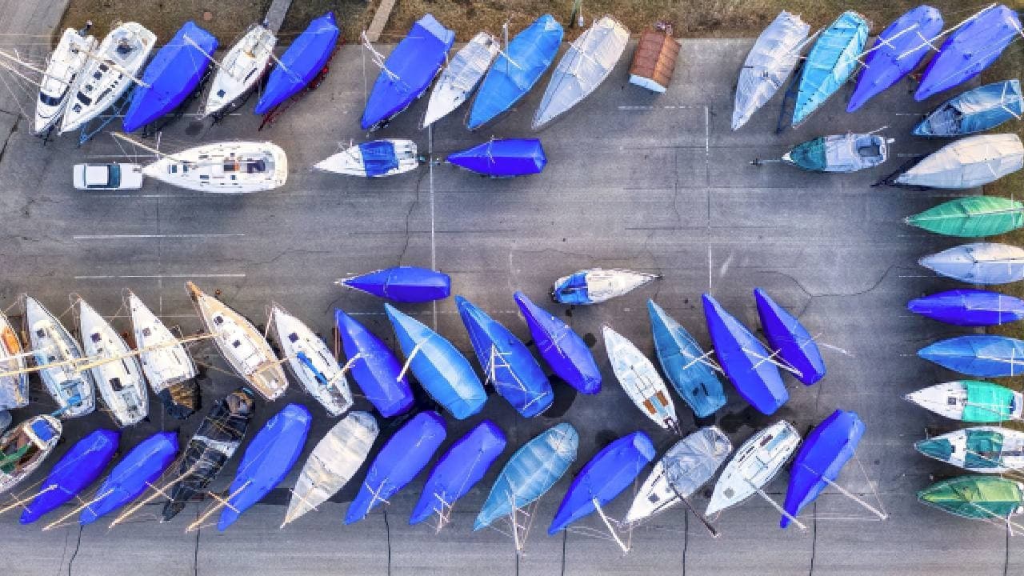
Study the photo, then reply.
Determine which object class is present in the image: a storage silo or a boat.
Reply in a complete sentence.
Looking from above, you can make out a boat.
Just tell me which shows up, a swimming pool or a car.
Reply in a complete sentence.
Of the two, only a car appears.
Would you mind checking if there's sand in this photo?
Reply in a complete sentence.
No, the picture contains no sand.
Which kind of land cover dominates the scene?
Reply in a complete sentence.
The scene is dominated by paved ground.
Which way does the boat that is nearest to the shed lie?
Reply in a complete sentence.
The boat that is nearest to the shed has been laid out at an angle relative to the frame.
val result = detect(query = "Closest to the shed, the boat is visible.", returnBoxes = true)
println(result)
[532,13,629,130]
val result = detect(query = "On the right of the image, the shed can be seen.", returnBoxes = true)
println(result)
[628,32,681,93]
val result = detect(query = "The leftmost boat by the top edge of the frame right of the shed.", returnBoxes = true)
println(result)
[734,9,829,129]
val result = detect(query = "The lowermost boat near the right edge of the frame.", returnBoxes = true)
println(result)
[918,476,1024,539]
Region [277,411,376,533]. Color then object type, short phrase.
white boat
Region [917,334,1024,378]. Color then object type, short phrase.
blue boat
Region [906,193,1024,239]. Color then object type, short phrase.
green boat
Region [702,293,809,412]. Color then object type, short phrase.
blue boat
